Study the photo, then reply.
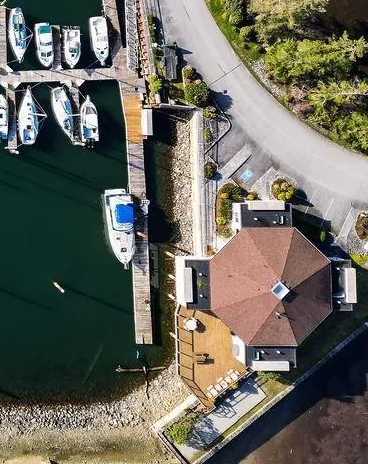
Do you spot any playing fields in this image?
No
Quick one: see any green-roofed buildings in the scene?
No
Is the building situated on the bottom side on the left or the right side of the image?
right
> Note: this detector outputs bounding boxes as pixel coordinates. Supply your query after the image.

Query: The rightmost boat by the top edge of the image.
[88,16,110,68]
